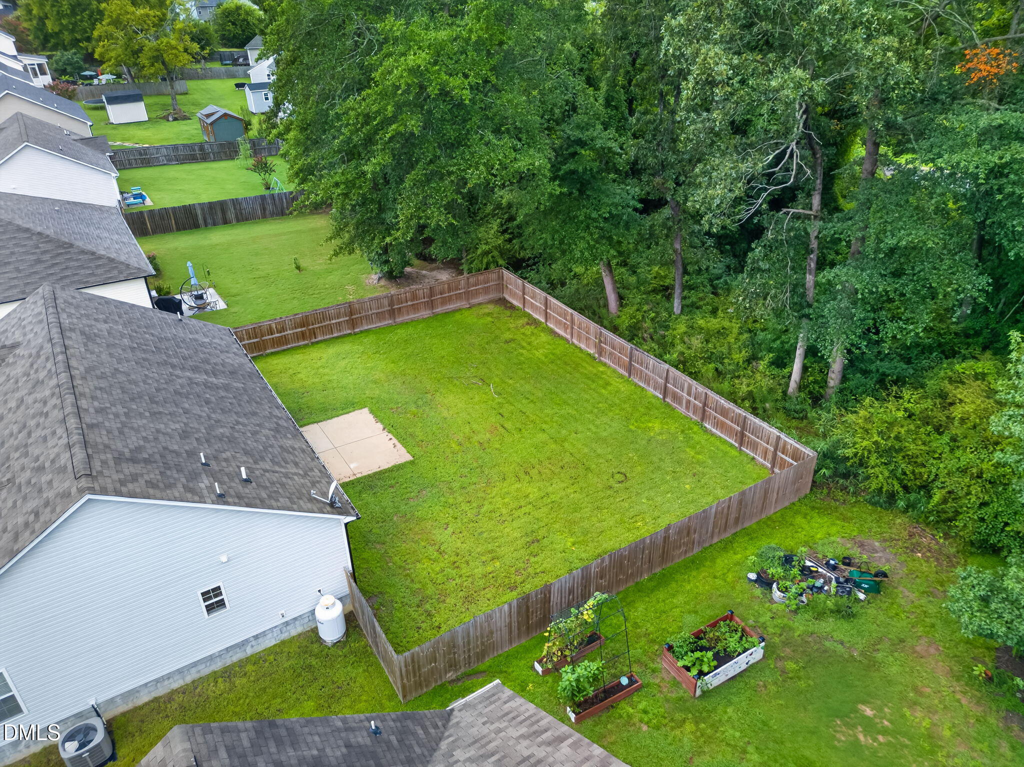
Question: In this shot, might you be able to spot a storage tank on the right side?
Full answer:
No, on the right side there is no storage tank.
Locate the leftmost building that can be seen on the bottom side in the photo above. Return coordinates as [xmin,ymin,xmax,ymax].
[0,283,368,767]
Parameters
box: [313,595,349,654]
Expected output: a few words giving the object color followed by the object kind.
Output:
white storage tank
